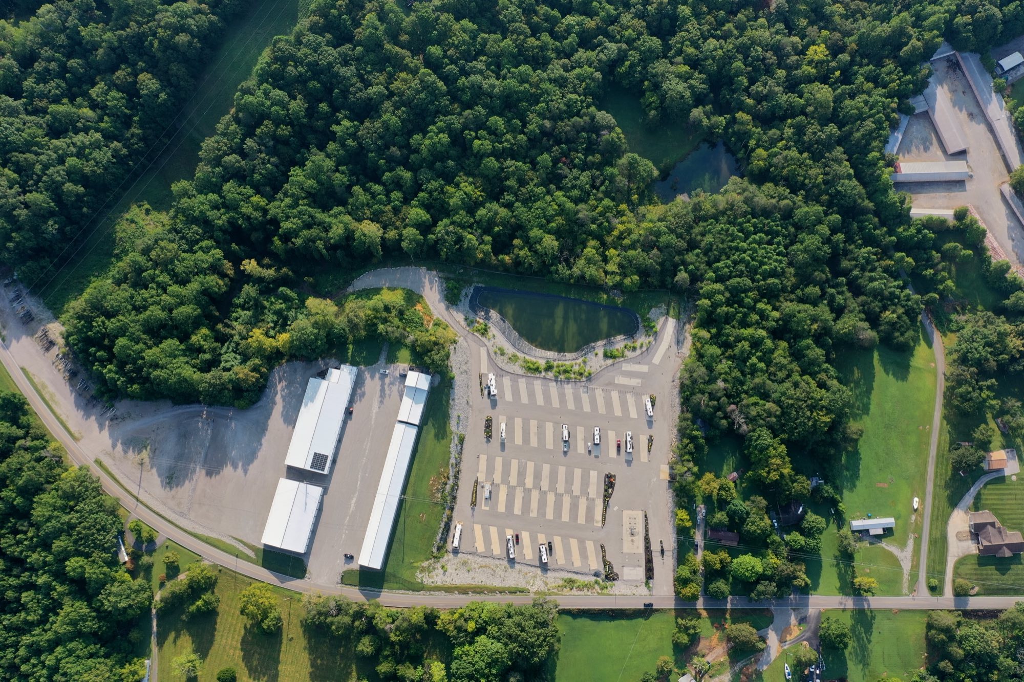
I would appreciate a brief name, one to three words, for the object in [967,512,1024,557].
house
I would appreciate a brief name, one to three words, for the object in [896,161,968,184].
barn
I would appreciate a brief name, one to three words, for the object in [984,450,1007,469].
building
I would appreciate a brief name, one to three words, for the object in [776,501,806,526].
house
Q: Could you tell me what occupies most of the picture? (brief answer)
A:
trees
